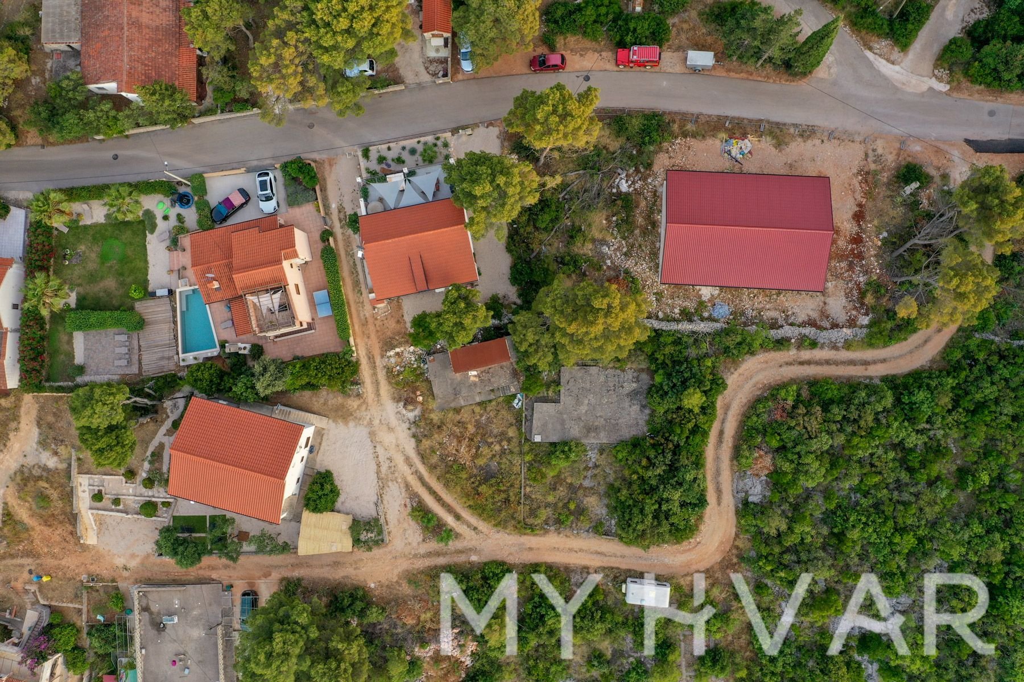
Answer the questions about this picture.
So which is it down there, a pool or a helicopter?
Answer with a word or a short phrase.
pool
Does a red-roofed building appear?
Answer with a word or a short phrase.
Yes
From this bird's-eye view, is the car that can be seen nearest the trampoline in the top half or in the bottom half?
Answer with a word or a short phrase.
top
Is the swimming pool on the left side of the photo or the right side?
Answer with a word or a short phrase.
left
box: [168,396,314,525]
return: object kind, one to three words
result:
house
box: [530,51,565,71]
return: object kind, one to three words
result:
car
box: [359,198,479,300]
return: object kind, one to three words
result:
house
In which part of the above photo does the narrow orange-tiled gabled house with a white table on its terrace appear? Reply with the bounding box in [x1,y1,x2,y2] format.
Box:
[422,0,452,42]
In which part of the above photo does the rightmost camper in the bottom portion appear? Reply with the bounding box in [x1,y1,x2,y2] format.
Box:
[617,575,670,607]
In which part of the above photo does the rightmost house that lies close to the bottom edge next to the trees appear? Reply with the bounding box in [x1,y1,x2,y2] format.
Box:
[131,581,235,682]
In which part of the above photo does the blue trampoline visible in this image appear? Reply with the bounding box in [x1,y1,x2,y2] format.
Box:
[173,191,195,210]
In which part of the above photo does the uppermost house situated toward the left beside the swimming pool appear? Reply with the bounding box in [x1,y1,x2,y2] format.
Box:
[190,214,312,336]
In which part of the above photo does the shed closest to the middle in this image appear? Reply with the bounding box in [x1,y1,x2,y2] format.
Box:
[427,337,522,410]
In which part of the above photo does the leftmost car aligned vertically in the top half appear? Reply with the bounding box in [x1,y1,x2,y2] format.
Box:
[256,172,279,215]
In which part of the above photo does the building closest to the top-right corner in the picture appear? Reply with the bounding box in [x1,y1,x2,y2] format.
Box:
[654,169,834,293]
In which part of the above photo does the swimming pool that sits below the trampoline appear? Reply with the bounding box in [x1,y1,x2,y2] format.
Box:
[176,286,219,357]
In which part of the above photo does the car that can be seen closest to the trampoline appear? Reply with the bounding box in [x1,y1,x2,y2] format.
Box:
[211,186,252,222]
